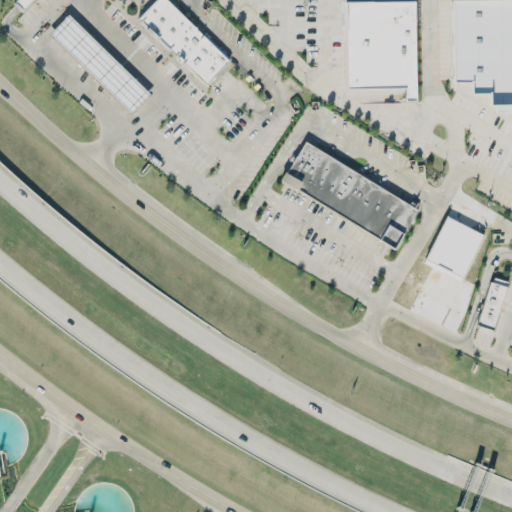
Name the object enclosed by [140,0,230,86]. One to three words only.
building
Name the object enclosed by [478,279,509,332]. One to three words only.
building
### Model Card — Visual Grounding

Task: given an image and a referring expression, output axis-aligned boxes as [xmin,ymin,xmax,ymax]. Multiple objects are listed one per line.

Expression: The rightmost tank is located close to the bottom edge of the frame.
[74,482,133,512]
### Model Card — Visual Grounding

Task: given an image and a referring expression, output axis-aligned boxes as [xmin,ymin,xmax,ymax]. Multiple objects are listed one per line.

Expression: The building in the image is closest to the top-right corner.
[454,1,512,106]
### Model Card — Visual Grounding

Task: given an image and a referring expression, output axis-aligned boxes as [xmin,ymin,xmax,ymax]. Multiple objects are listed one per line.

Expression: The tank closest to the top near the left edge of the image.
[0,408,28,478]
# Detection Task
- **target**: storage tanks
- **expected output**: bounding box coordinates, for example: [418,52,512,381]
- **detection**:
[0,408,28,478]
[74,482,133,512]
